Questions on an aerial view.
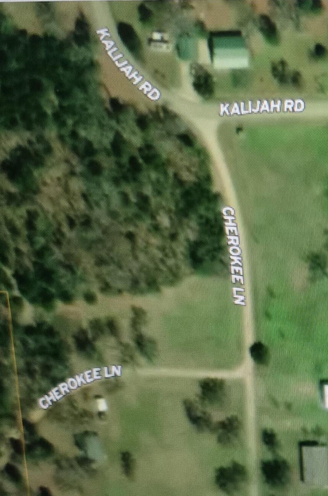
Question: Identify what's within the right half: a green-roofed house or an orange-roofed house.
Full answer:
You can see a green-roofed house within the right half.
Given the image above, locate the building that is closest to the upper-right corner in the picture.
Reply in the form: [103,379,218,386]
[210,34,249,68]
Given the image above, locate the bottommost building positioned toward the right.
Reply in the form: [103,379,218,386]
[301,446,328,487]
